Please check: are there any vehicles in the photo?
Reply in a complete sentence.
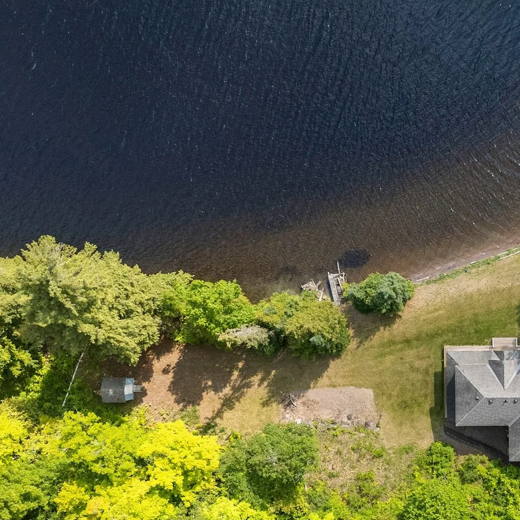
No, there appears to be no vehicle in this shot.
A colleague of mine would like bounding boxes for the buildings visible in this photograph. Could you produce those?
[444,337,520,463]
[96,377,143,403]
